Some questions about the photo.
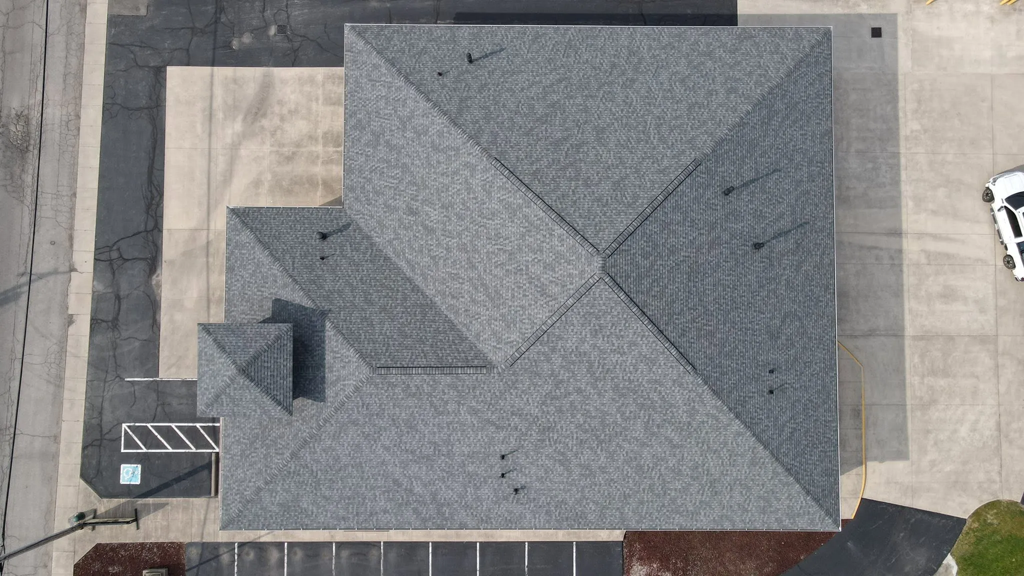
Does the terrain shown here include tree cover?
No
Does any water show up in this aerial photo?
No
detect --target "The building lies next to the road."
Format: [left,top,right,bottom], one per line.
[195,25,842,531]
